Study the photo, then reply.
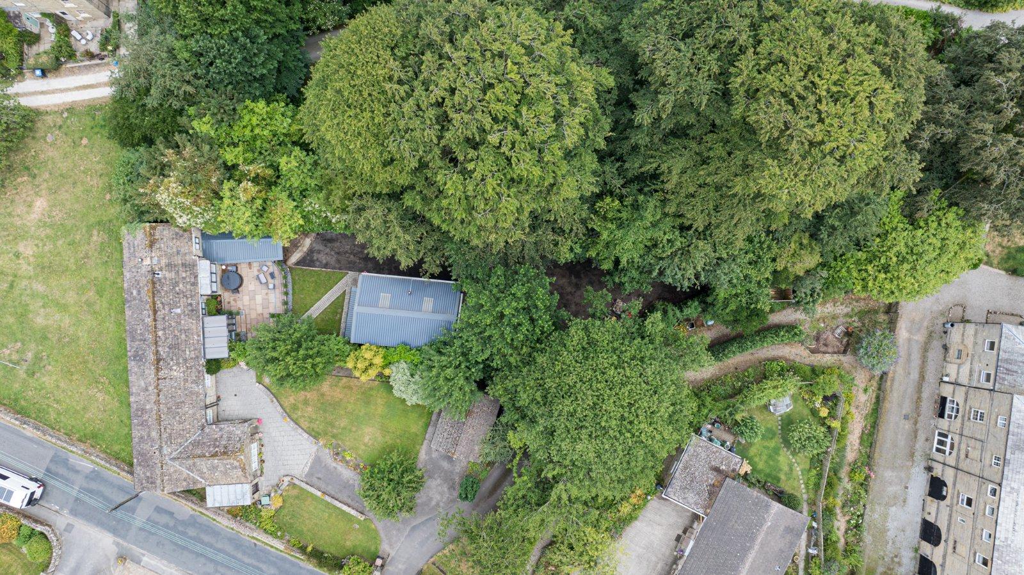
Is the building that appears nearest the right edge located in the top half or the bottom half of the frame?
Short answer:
bottom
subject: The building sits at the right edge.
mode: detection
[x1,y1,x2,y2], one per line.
[918,324,1024,575]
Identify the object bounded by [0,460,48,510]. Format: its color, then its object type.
white van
